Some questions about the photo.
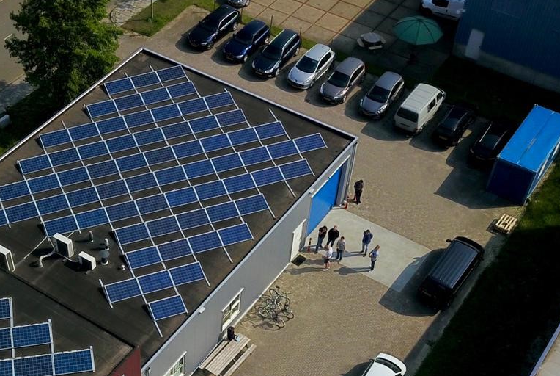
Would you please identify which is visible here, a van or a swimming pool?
van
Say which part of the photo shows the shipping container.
right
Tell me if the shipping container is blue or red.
blue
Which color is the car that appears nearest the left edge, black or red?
black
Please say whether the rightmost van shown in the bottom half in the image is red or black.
black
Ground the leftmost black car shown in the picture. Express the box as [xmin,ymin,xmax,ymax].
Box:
[186,6,237,52]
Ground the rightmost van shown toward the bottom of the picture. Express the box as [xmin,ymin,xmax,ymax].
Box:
[418,233,487,304]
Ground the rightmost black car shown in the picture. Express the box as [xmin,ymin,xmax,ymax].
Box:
[473,113,522,167]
